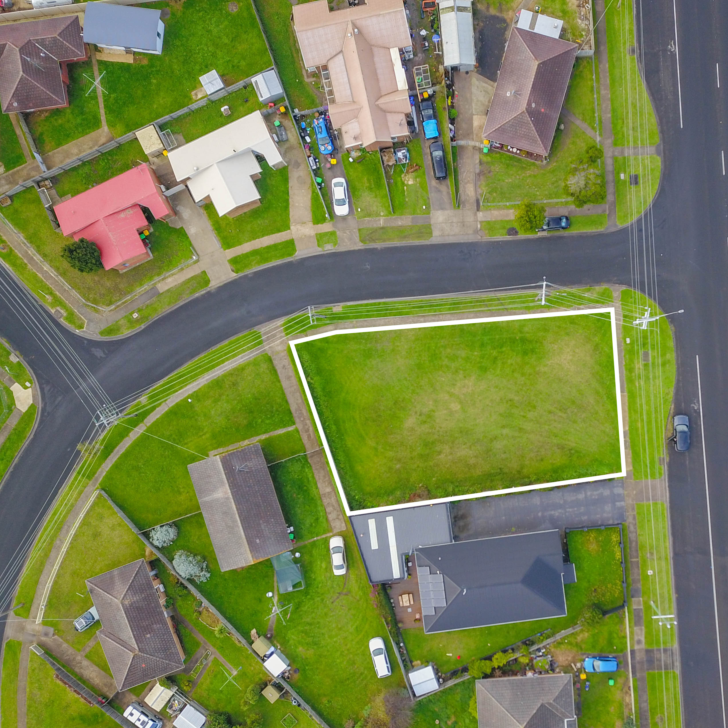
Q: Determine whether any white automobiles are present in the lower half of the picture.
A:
Yes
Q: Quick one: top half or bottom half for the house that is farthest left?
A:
top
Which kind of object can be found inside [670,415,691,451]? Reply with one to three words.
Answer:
car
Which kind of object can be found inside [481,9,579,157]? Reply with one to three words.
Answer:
house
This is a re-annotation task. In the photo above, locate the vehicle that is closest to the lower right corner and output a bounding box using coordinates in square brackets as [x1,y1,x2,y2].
[584,655,618,673]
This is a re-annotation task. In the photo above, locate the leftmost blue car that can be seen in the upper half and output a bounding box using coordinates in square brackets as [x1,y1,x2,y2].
[314,118,334,155]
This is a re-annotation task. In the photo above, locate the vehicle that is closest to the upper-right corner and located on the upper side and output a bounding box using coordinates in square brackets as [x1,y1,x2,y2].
[538,215,571,232]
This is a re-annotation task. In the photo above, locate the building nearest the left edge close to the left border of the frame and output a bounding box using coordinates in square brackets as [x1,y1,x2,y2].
[0,15,90,116]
